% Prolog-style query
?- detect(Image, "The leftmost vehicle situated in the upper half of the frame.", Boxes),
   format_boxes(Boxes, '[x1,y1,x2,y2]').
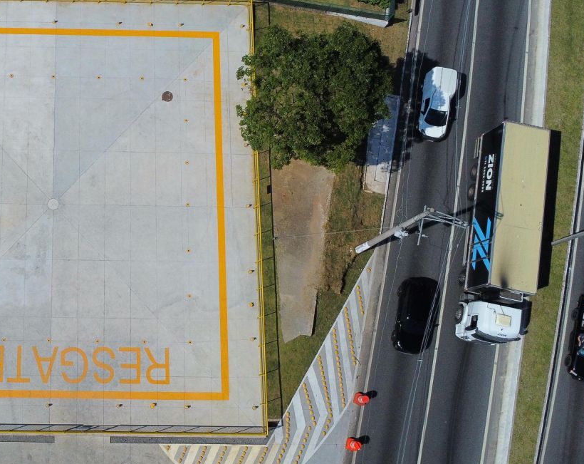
[416,62,467,145]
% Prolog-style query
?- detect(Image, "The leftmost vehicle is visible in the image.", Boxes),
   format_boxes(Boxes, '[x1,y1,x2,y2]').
[390,275,439,355]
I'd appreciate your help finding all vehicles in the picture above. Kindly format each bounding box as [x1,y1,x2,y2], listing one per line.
[563,289,584,381]
[390,275,439,355]
[416,62,467,145]
[452,121,551,353]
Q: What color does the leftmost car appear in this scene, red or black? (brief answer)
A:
black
